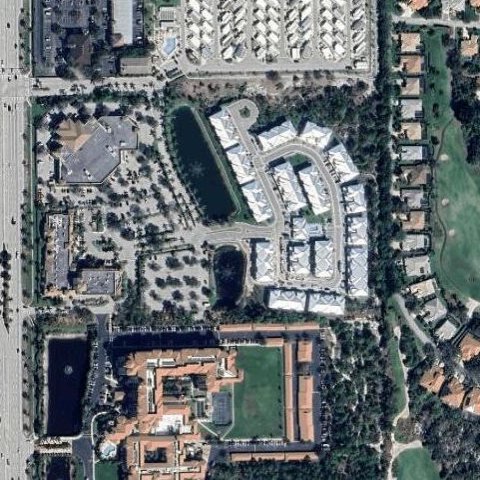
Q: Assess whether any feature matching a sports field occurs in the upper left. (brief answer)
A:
No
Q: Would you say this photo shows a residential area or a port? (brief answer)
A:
residential area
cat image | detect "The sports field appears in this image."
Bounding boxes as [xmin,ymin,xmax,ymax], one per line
[224,339,289,444]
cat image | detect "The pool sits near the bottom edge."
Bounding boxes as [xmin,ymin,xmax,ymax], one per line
[100,441,116,457]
